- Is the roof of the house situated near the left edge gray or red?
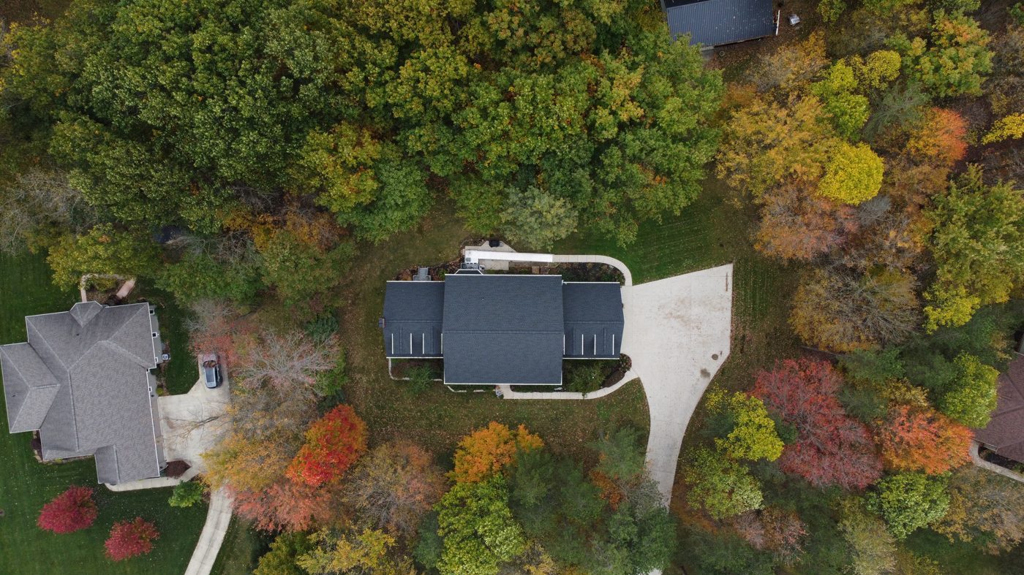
gray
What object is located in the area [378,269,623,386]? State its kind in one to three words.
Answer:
house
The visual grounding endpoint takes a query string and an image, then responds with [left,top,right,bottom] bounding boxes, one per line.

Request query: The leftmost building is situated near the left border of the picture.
[0,300,167,484]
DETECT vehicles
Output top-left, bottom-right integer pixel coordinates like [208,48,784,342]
[203,354,222,390]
